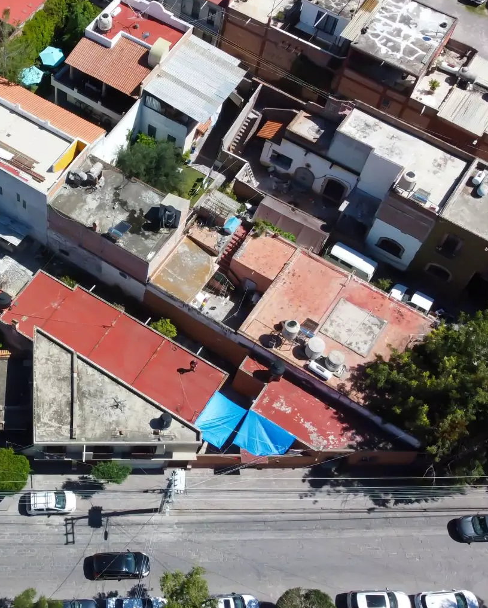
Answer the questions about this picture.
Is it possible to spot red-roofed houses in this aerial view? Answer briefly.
Yes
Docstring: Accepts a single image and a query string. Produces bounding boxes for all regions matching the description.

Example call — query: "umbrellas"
[37,50,67,79]
[16,69,46,91]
